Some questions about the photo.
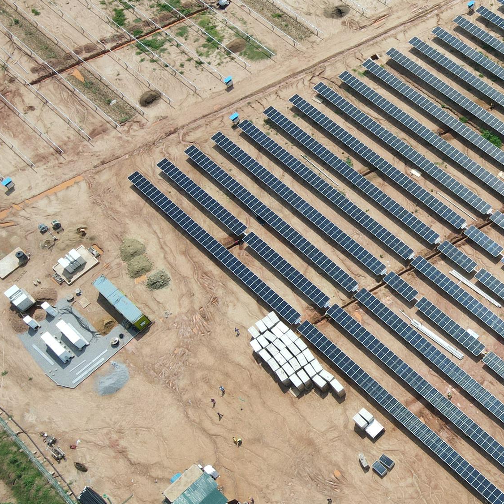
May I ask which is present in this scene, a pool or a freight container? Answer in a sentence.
Of the two, only a freight container appears.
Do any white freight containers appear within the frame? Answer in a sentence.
Yes, there's a white freight container here.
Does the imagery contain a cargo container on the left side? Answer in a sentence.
Yes, the scene does show a cargo container on the left side.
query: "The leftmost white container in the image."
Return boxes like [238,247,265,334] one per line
[4,284,34,310]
